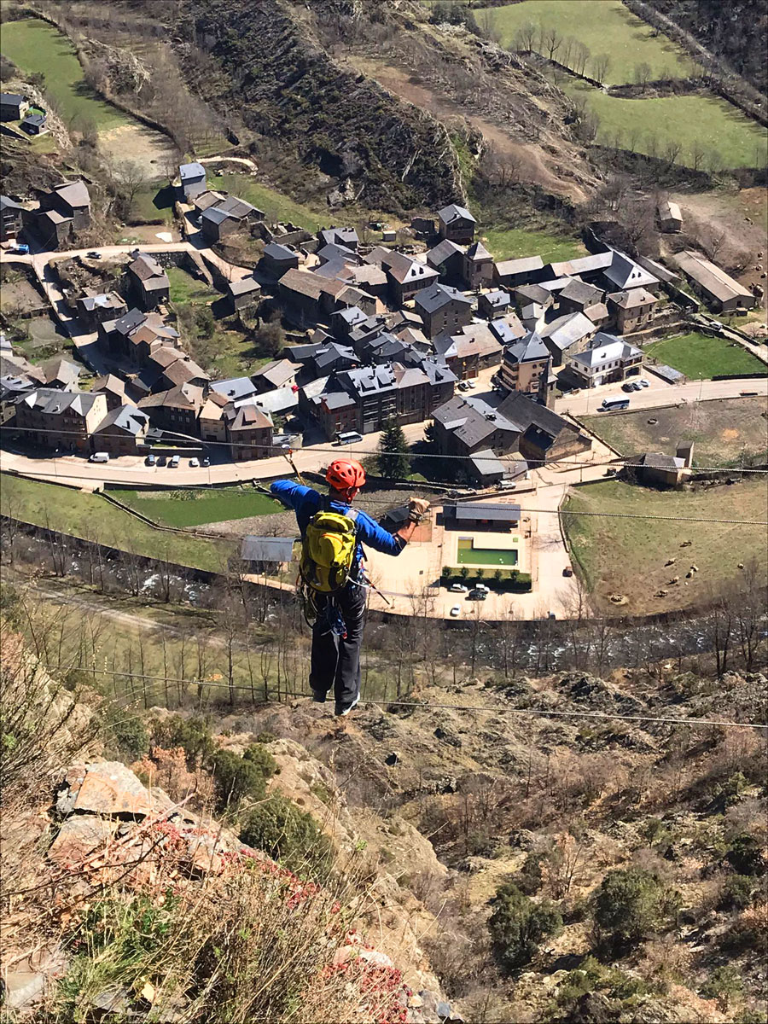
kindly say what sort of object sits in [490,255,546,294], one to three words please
barn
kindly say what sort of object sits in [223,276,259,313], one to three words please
shed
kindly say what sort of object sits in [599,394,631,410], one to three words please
vehicle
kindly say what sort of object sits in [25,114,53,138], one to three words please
house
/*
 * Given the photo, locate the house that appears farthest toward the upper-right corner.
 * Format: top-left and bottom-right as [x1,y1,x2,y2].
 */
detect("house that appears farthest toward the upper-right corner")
[659,202,683,241]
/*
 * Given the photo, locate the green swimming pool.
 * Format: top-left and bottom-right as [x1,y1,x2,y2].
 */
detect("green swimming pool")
[454,534,521,567]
